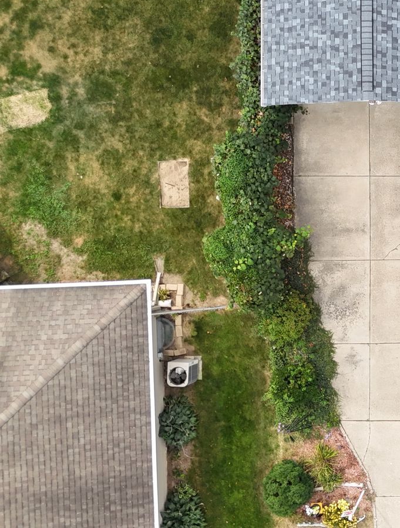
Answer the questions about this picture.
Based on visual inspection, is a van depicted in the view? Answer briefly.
No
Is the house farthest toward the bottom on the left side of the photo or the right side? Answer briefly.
left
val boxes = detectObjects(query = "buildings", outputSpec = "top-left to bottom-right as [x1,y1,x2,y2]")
[0,279,169,528]
[261,0,400,108]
